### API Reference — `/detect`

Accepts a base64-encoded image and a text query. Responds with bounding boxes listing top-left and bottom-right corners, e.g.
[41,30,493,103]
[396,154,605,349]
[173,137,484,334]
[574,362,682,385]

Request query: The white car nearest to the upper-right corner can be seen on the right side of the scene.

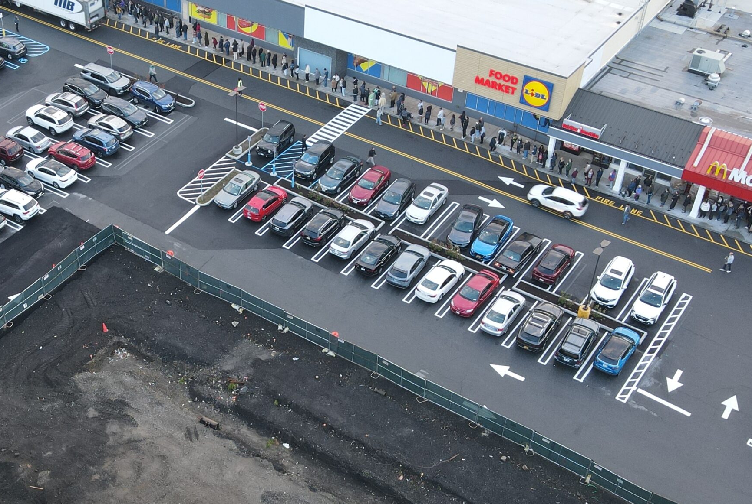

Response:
[525,186,591,222]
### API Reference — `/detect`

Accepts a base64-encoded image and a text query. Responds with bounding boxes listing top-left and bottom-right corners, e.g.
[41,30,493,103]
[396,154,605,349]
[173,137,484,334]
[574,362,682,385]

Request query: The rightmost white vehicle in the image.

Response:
[628,273,677,326]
